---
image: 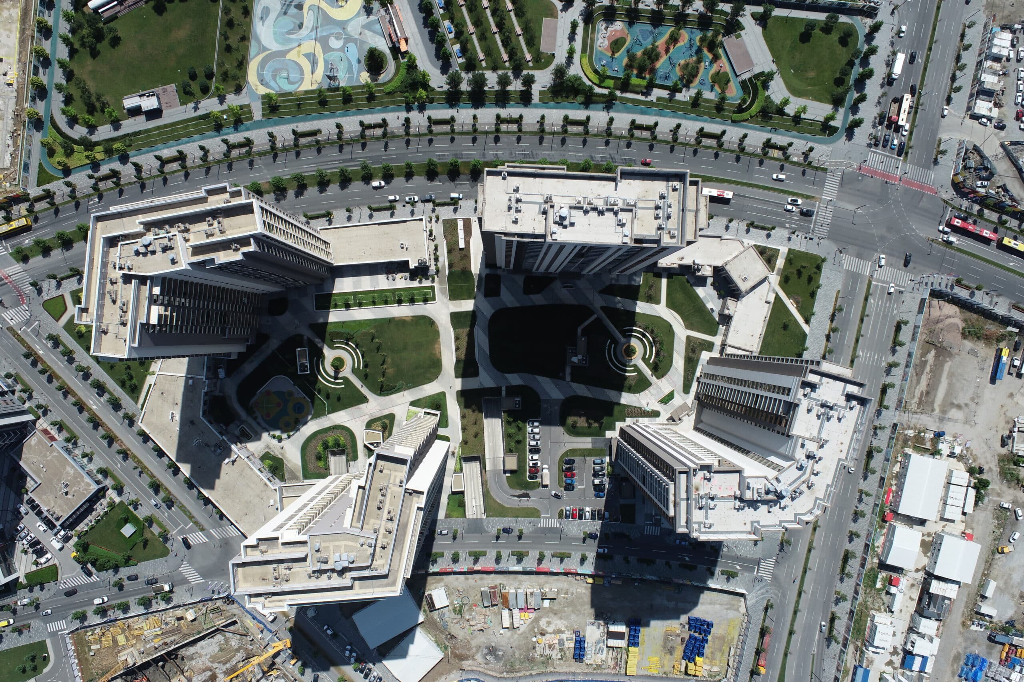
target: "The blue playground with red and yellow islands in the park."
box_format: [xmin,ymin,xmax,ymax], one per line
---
[594,19,742,102]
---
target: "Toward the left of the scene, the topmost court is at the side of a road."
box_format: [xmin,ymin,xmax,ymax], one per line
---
[247,0,395,121]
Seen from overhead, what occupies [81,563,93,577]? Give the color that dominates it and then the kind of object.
black vehicle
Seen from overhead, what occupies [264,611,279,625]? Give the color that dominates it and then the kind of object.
white vehicle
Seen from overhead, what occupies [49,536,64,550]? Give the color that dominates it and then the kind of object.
white vehicle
